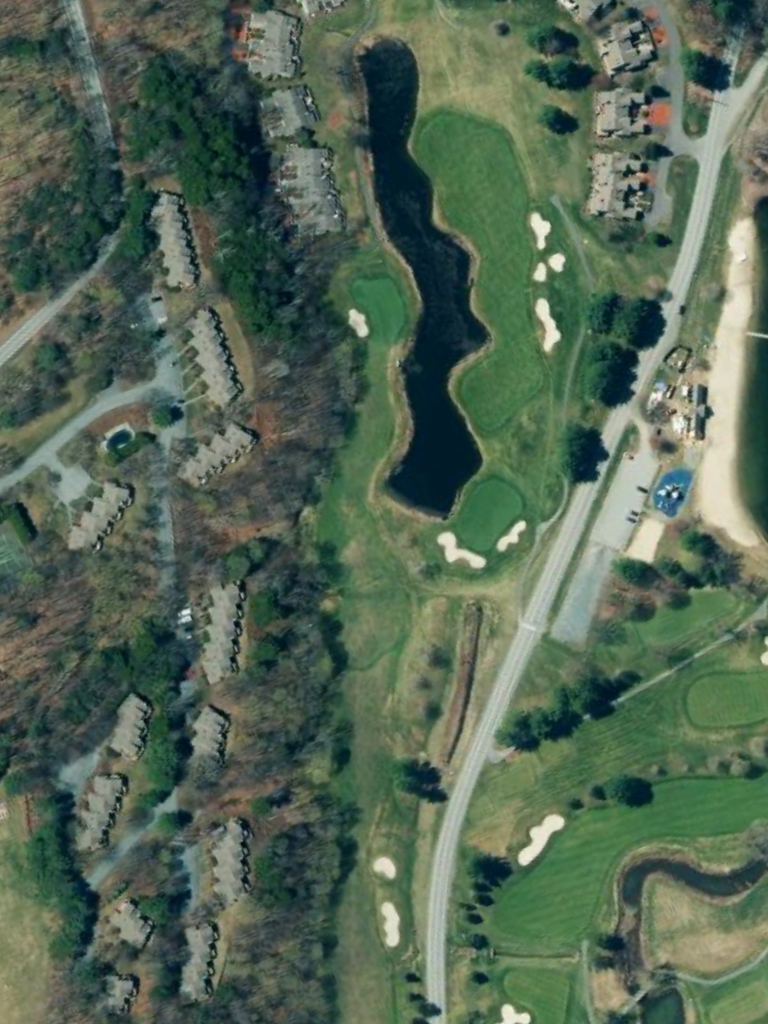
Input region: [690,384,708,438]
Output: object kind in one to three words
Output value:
house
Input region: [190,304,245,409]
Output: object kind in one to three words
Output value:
house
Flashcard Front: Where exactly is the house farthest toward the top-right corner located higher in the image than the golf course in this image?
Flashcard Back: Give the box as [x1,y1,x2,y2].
[610,15,659,77]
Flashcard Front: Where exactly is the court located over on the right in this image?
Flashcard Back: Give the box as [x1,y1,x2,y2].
[626,515,665,565]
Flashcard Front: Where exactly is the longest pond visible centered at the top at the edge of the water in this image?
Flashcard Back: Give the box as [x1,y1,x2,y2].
[361,41,492,516]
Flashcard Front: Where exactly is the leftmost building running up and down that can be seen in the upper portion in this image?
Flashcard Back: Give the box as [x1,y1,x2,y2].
[155,188,200,290]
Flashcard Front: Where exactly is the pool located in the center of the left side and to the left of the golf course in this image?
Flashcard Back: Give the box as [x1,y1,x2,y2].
[100,422,137,454]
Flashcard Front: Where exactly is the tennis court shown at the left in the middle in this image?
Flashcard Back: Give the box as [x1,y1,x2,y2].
[0,519,36,598]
